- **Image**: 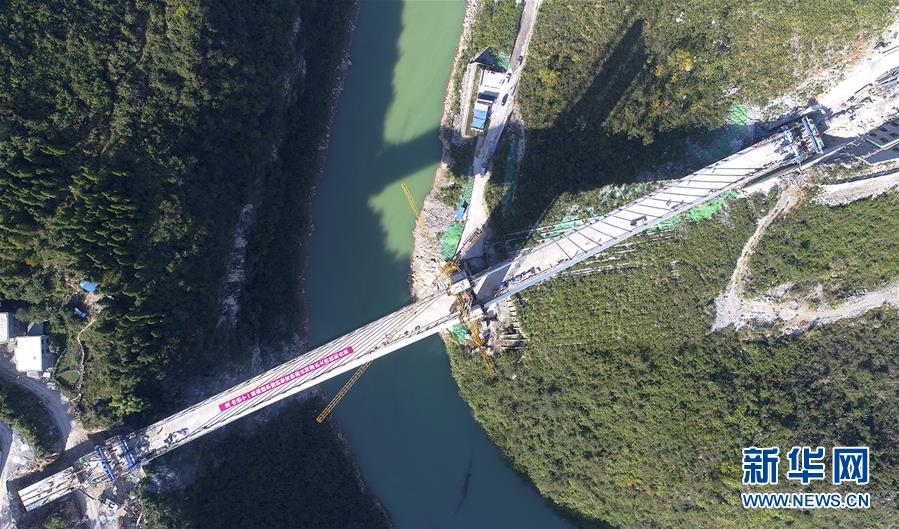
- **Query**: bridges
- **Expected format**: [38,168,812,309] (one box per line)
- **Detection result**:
[119,125,799,468]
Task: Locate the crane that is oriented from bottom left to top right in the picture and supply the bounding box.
[316,237,484,421]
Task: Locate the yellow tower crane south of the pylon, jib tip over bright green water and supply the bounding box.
[401,182,499,379]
